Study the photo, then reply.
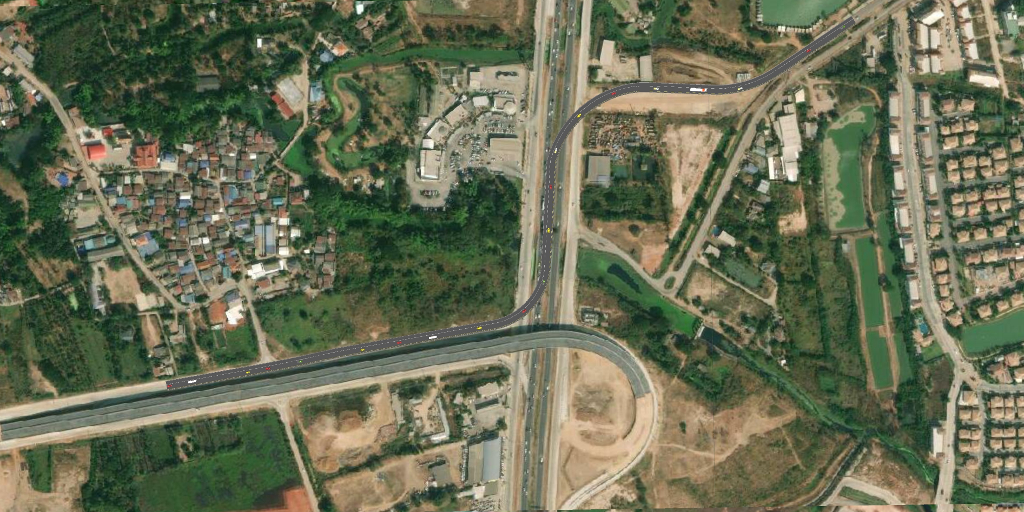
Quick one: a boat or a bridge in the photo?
bridge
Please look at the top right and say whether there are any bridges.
No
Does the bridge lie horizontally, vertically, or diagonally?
horizontally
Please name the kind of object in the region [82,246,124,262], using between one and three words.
house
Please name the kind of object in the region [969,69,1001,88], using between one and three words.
building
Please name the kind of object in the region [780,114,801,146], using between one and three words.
building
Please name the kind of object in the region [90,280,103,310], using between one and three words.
house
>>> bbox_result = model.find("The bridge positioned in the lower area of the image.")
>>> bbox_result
[1,331,651,441]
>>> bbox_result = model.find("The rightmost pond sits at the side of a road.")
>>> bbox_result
[961,308,1024,353]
